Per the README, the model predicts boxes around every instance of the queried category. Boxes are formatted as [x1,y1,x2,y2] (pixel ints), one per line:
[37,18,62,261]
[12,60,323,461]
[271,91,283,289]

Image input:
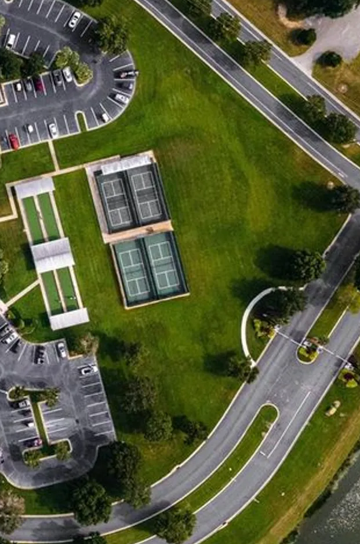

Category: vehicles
[49,123,58,139]
[69,12,79,28]
[10,338,24,353]
[53,70,62,86]
[35,347,44,363]
[16,399,32,409]
[34,78,43,94]
[26,421,35,428]
[9,133,18,149]
[16,84,22,93]
[24,79,33,95]
[57,343,66,359]
[114,93,129,104]
[79,364,98,374]
[0,135,9,150]
[27,124,34,133]
[0,326,11,338]
[6,32,17,50]
[117,70,136,78]
[5,331,19,345]
[19,408,35,417]
[62,68,72,84]
[114,81,130,89]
